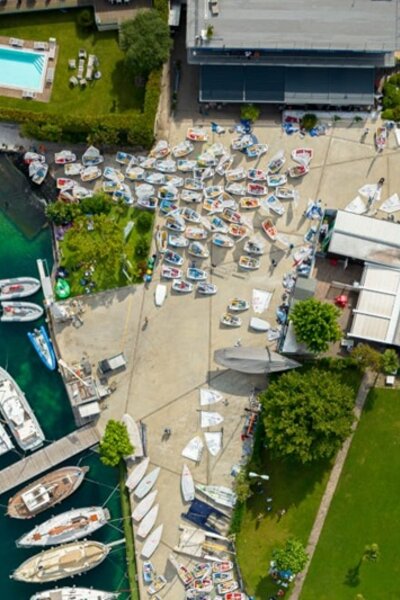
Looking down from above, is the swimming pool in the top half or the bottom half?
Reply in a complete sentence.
The swimming pool is in the top half of the image.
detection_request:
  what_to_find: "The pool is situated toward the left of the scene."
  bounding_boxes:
[0,36,59,102]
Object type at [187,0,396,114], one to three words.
building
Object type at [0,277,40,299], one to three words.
boat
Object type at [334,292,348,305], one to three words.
umbrella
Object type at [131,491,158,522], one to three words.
boat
